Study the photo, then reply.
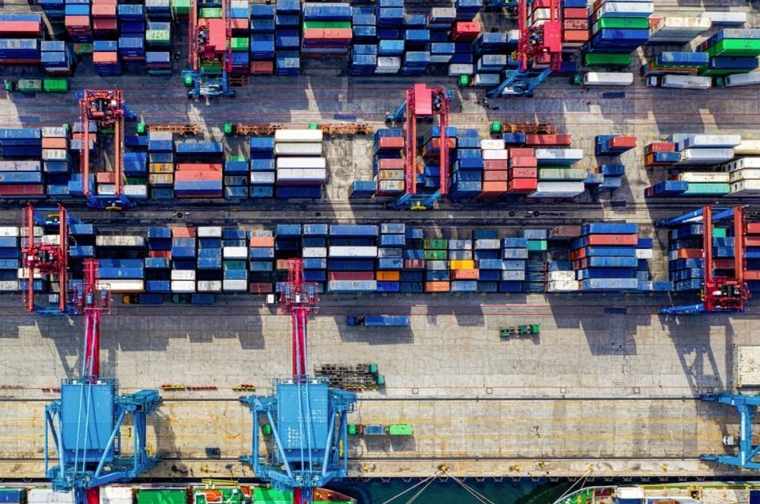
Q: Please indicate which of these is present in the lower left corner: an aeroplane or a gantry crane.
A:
gantry crane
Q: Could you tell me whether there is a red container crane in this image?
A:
Yes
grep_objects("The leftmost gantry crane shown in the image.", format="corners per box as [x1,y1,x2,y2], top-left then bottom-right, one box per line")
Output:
[20,206,89,320]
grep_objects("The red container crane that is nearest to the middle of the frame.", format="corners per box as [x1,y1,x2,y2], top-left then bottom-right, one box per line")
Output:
[379,81,453,218]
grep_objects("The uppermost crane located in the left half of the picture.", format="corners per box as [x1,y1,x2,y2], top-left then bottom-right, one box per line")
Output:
[181,0,237,96]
